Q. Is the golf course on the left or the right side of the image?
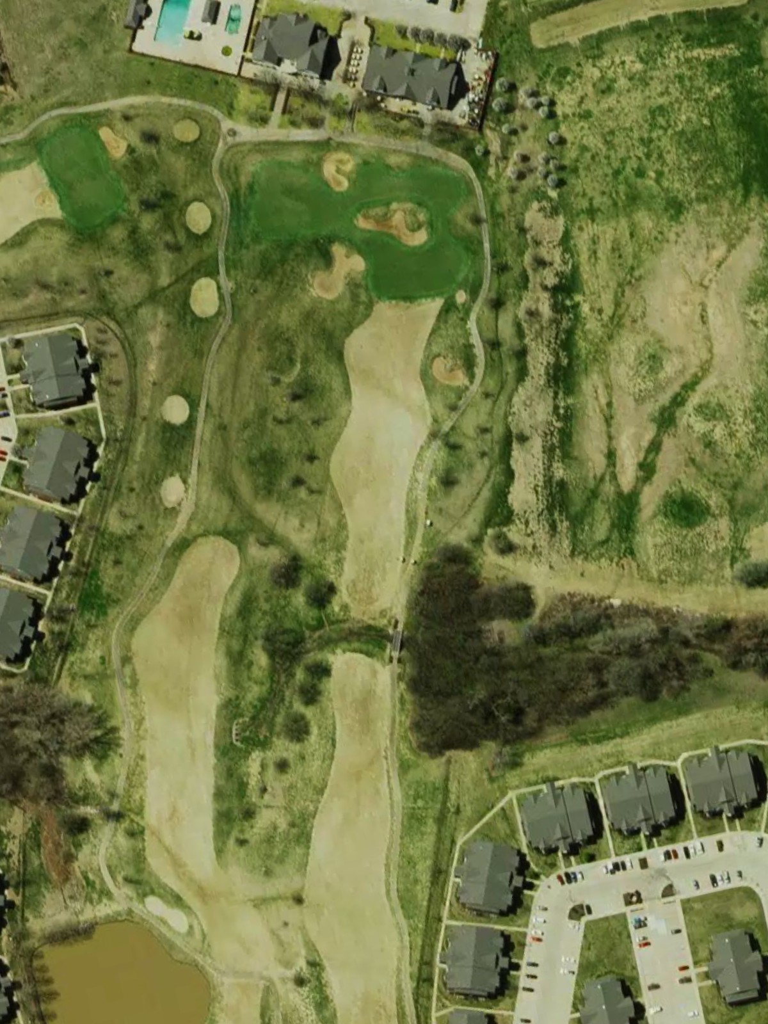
left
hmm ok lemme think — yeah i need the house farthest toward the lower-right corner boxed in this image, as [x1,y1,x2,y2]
[700,935,768,1004]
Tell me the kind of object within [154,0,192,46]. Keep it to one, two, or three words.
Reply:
swimming pool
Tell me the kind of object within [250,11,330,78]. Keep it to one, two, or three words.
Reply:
building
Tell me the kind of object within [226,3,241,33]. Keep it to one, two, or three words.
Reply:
swimming pool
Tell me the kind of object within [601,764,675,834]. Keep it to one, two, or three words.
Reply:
house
